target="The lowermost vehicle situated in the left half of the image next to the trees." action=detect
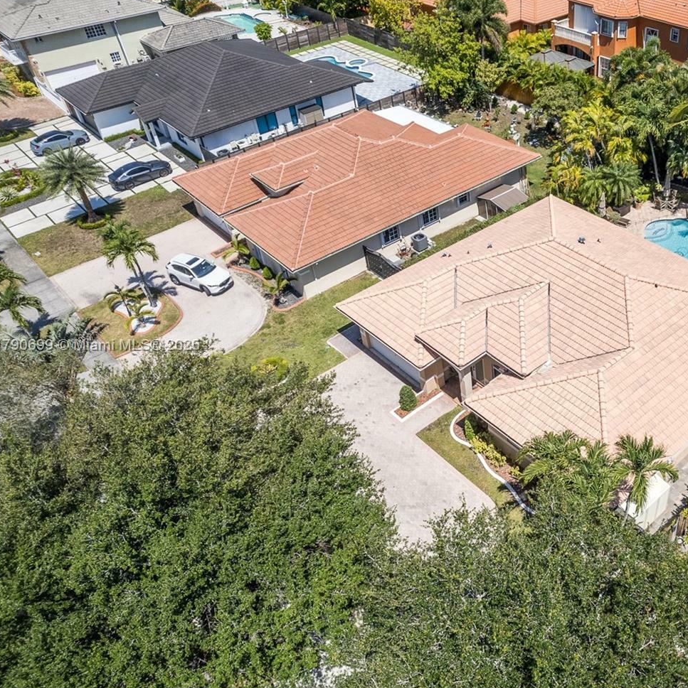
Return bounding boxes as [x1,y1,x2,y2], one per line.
[160,250,236,297]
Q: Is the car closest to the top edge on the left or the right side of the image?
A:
left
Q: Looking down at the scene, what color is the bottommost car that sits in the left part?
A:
white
